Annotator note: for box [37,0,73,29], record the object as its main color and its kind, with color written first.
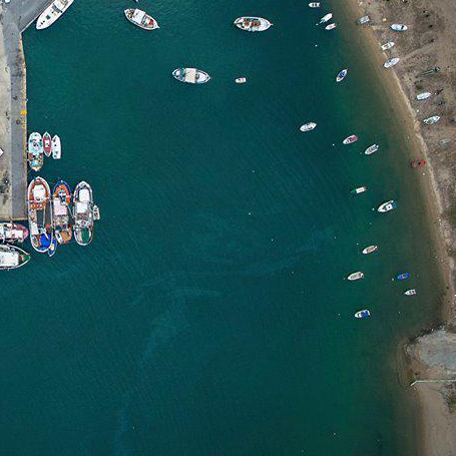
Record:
white boat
